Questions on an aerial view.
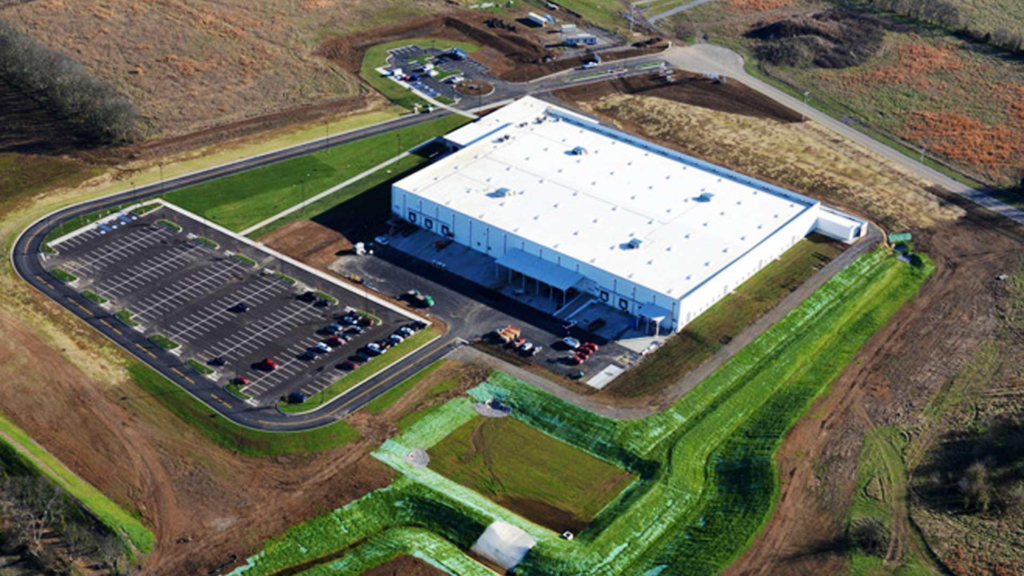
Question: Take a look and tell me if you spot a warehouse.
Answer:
Yes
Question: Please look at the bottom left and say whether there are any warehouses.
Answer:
No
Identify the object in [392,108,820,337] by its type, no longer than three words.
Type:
warehouse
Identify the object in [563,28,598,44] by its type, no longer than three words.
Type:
building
